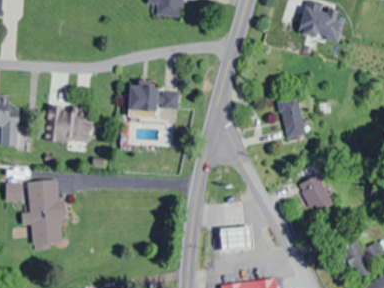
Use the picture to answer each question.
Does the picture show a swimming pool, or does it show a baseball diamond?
swimming pool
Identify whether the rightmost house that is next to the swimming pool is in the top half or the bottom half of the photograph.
top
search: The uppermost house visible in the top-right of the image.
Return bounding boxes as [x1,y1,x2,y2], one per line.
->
[297,1,350,45]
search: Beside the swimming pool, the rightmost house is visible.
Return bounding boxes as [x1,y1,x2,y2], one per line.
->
[129,82,180,110]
